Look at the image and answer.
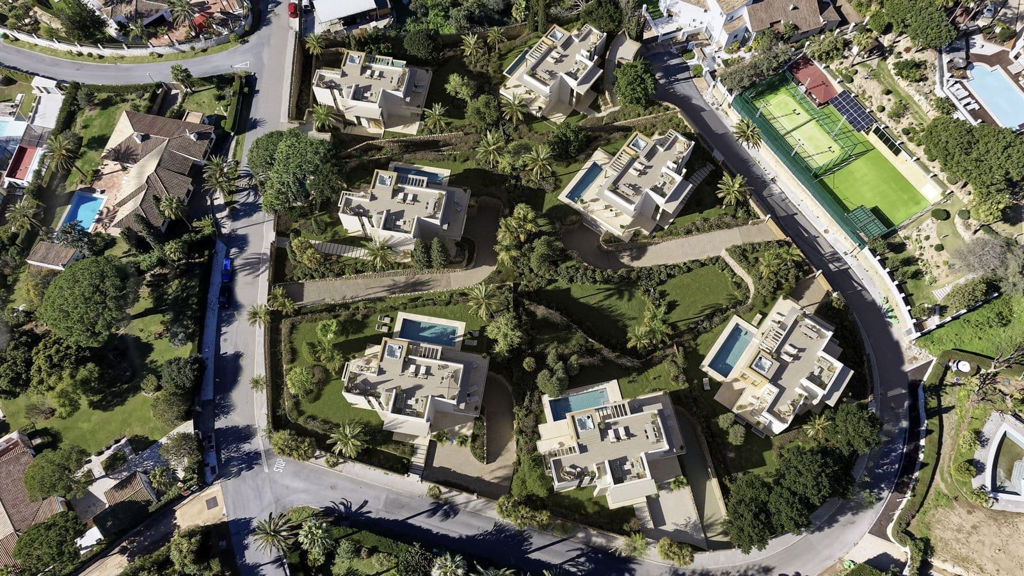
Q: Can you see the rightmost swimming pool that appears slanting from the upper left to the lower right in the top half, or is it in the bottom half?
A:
top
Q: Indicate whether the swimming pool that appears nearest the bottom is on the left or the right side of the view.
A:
right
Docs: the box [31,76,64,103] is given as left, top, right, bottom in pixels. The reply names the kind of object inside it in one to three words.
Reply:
house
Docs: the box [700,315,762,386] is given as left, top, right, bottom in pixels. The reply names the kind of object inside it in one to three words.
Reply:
swimming pool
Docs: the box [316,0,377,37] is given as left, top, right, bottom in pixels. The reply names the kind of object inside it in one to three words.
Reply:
shed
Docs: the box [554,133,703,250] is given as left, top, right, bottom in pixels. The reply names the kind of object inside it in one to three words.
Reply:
house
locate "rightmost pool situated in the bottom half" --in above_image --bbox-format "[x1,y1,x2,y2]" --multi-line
[983,426,1024,505]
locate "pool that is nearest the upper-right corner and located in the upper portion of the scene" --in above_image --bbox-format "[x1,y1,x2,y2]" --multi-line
[963,60,1024,131]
